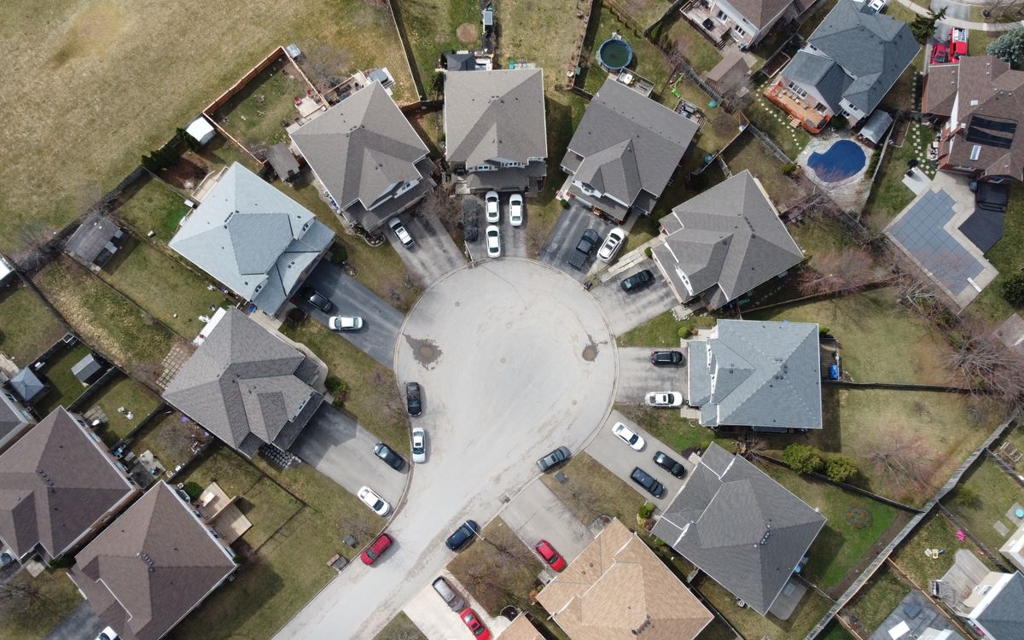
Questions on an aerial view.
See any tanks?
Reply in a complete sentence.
No, the frame has no tank in it.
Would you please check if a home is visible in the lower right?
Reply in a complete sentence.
Yes, a home is visible in the lower right.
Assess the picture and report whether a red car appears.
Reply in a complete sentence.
Yes, the picture does show a red car.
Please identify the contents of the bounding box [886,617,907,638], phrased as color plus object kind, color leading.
white umbrella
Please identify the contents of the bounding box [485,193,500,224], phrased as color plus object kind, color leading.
white car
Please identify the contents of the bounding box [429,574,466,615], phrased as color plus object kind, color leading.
gray truck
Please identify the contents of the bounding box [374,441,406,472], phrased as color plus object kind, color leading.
black car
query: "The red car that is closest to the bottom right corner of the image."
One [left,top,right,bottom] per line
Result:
[535,539,565,573]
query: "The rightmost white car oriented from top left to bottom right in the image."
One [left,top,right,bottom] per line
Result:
[612,421,644,451]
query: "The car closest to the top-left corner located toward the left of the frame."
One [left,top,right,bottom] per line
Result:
[301,287,334,313]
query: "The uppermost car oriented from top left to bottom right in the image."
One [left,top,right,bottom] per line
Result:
[388,218,416,249]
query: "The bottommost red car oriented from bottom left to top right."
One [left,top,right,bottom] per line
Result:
[360,532,394,565]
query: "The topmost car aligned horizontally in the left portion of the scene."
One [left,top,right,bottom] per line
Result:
[329,316,363,331]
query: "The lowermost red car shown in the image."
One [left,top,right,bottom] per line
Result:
[460,608,491,640]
